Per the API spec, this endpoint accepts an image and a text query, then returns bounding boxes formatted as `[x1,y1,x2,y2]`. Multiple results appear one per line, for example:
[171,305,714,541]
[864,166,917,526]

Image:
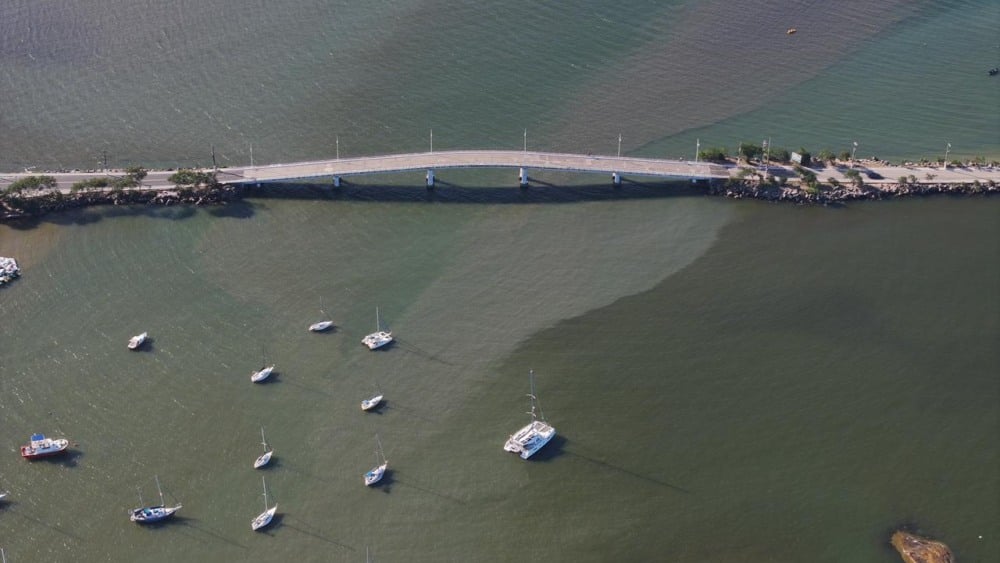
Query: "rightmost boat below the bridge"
[504,370,555,461]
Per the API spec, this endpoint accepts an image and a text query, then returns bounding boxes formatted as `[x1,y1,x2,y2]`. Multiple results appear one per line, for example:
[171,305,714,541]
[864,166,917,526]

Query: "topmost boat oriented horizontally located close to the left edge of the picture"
[21,435,74,460]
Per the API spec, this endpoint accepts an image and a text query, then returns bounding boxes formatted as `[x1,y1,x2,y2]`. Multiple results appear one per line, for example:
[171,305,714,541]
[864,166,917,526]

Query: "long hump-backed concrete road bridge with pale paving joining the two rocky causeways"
[240,150,713,191]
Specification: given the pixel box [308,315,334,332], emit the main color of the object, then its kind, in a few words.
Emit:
white boat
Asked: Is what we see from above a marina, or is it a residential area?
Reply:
marina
